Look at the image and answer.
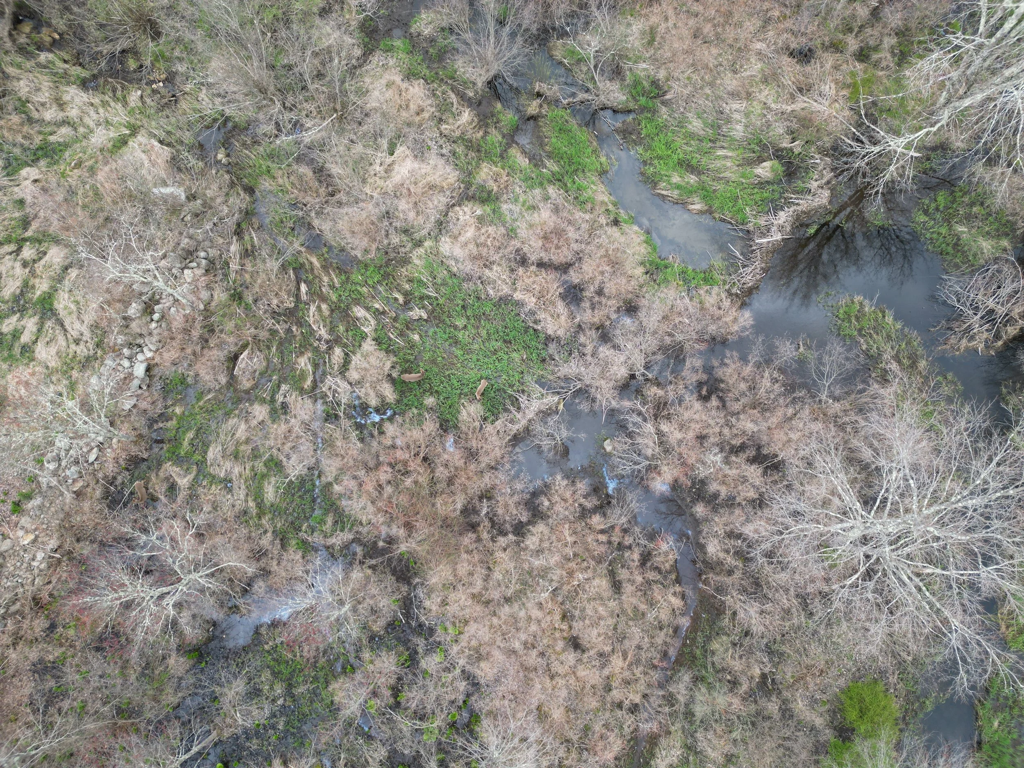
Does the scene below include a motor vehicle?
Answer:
No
